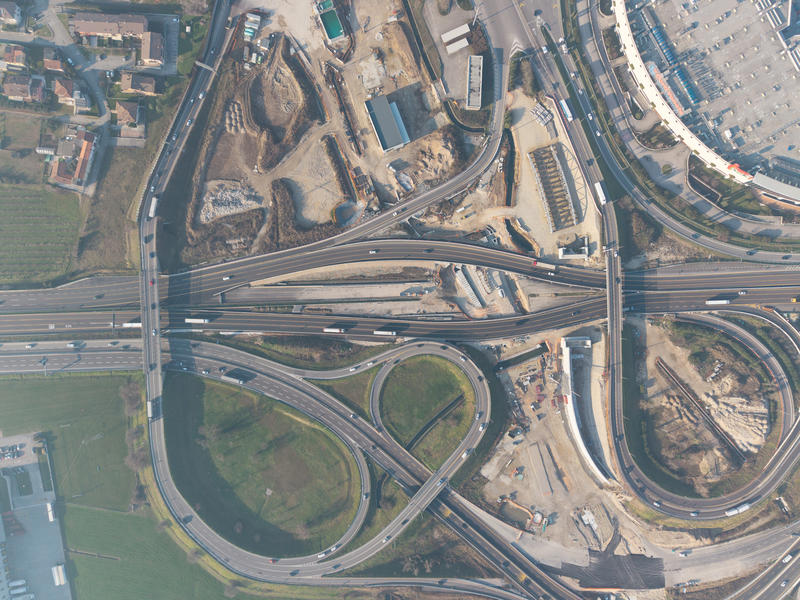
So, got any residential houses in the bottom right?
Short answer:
No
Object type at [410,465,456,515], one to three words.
bridge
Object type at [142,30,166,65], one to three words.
house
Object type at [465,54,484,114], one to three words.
building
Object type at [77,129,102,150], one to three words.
house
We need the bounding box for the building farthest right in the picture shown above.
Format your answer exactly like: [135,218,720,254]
[606,0,800,203]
